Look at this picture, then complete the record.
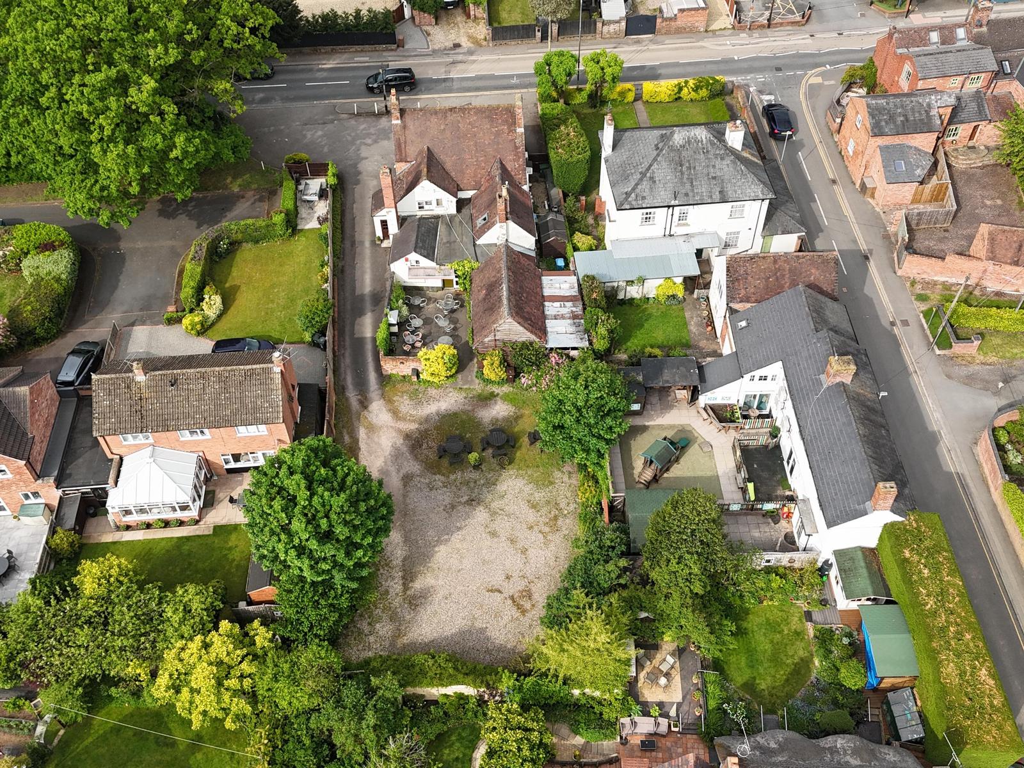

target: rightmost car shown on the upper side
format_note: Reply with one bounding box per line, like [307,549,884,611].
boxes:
[758,105,800,143]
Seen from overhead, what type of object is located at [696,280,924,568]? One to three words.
building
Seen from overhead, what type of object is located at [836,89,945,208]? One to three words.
house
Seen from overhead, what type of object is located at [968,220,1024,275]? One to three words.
shed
